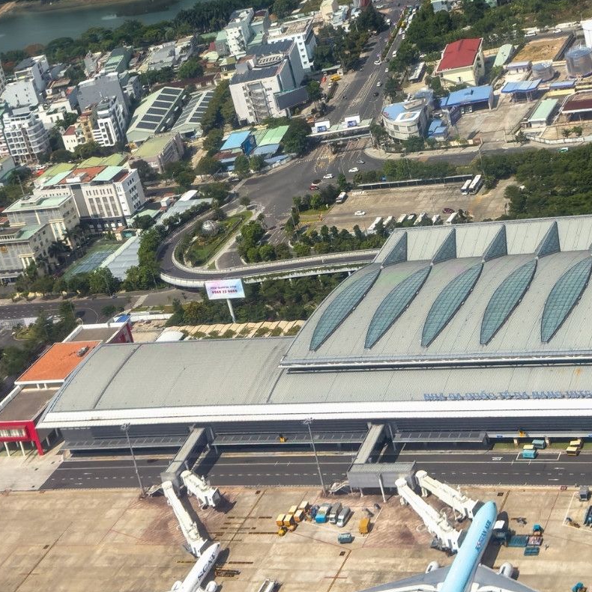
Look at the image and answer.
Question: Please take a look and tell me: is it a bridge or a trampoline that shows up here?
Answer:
bridge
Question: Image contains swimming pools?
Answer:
No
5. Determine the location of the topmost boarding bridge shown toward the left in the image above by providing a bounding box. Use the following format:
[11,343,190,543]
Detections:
[184,468,228,517]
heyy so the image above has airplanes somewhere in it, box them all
[340,501,549,592]
[144,545,221,592]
